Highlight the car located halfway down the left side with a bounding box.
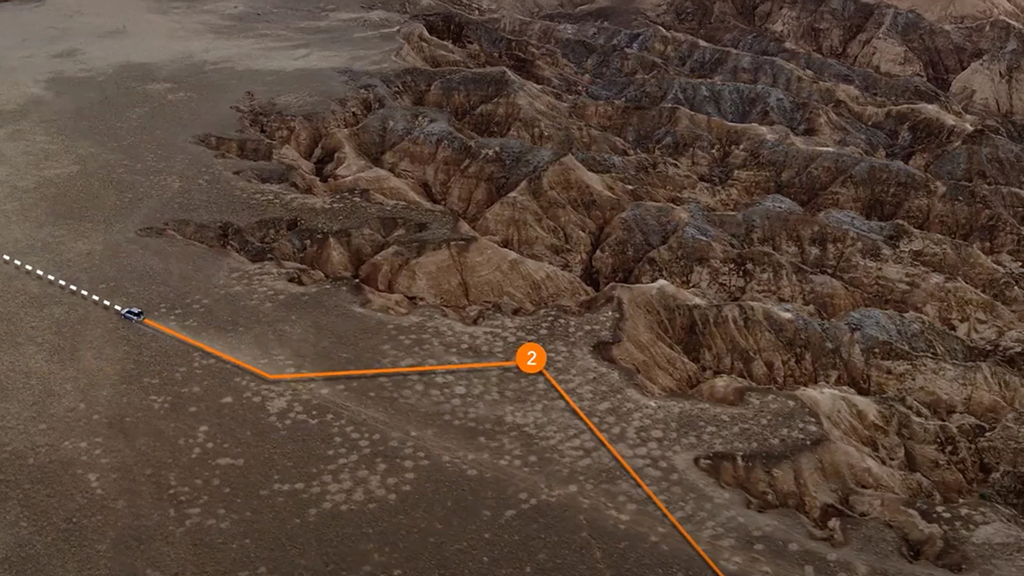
[121,307,147,322]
